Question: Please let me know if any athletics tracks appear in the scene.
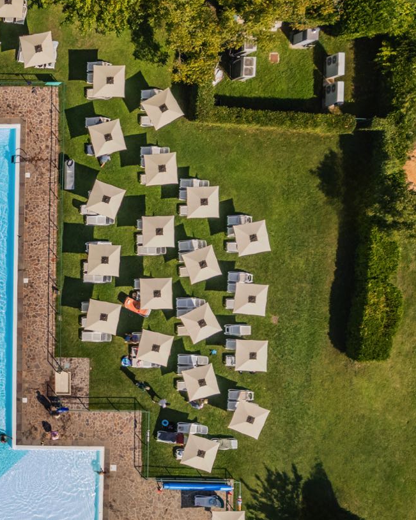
No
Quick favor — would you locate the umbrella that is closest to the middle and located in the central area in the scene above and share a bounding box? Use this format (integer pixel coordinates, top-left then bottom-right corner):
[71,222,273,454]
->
[180,243,221,284]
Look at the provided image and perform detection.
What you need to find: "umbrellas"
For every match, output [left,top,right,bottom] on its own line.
[84,297,121,334]
[84,180,125,220]
[19,31,55,68]
[135,328,173,367]
[179,431,218,471]
[85,242,119,276]
[183,186,217,219]
[180,362,218,401]
[139,214,173,247]
[225,398,267,439]
[209,510,243,520]
[140,87,182,131]
[230,219,267,256]
[180,243,221,284]
[141,152,176,187]
[138,278,170,310]
[177,301,221,344]
[86,120,122,156]
[89,65,121,97]
[229,339,266,371]
[229,280,266,315]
